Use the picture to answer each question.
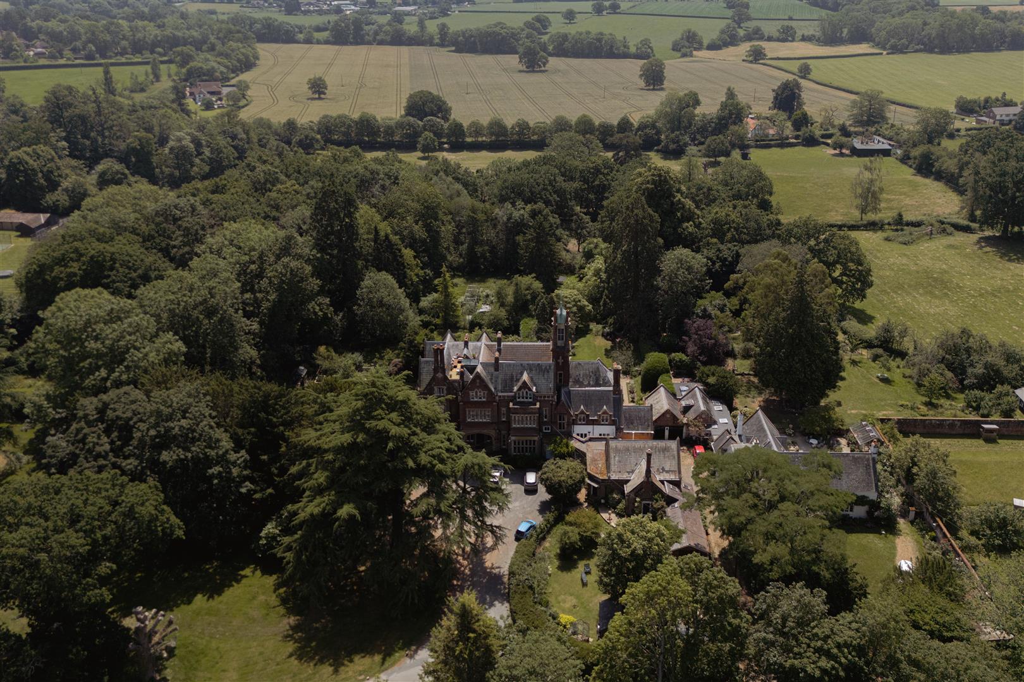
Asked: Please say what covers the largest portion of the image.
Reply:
trees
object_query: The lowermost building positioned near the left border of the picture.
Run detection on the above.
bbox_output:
[0,205,60,238]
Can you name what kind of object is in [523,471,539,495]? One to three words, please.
car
